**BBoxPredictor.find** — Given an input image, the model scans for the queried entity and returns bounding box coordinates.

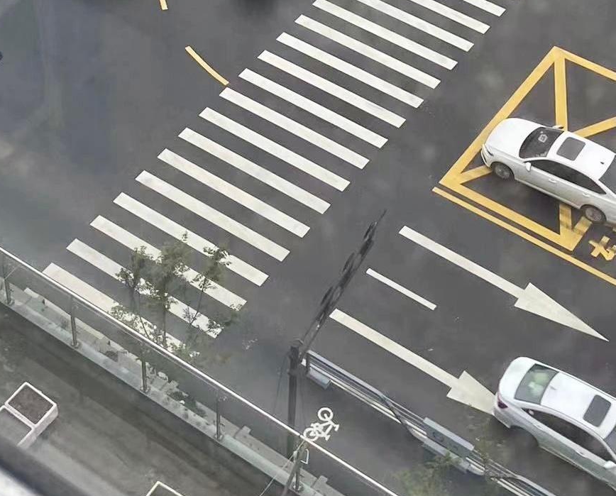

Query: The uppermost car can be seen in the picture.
[481,116,616,227]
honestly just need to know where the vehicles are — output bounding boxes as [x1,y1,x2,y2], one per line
[494,352,616,488]
[481,116,616,227]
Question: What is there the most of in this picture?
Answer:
paved ground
